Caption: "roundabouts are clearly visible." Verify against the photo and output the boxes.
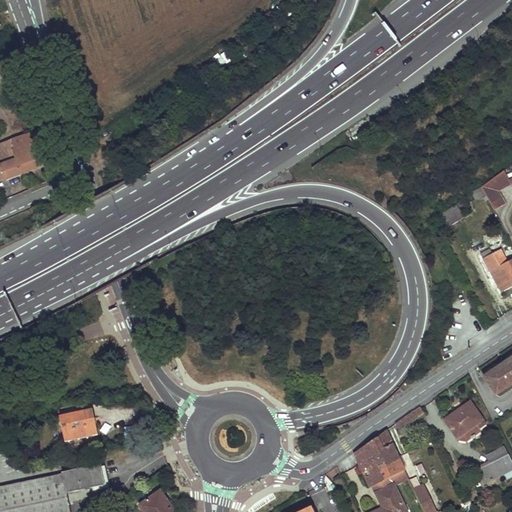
[178,391,298,510]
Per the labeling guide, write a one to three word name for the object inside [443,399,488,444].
house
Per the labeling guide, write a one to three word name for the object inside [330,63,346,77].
vehicle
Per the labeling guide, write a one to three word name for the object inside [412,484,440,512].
shed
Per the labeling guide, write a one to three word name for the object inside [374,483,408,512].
house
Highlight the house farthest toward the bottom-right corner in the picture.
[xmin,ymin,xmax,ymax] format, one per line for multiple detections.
[482,446,512,480]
